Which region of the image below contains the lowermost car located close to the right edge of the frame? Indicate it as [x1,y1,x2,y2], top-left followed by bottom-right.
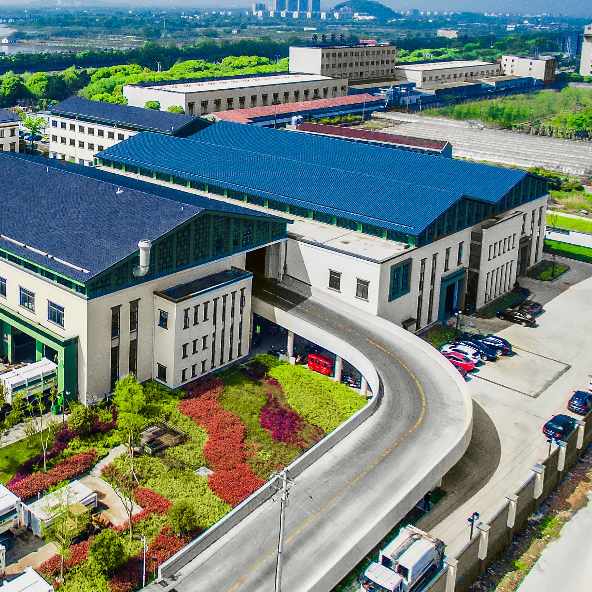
[544,408,578,438]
